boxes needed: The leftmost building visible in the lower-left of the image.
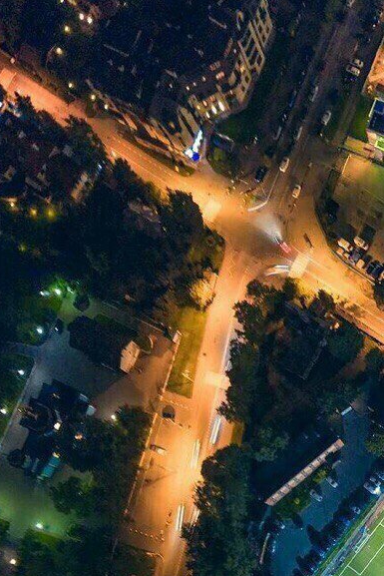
[7,374,95,479]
